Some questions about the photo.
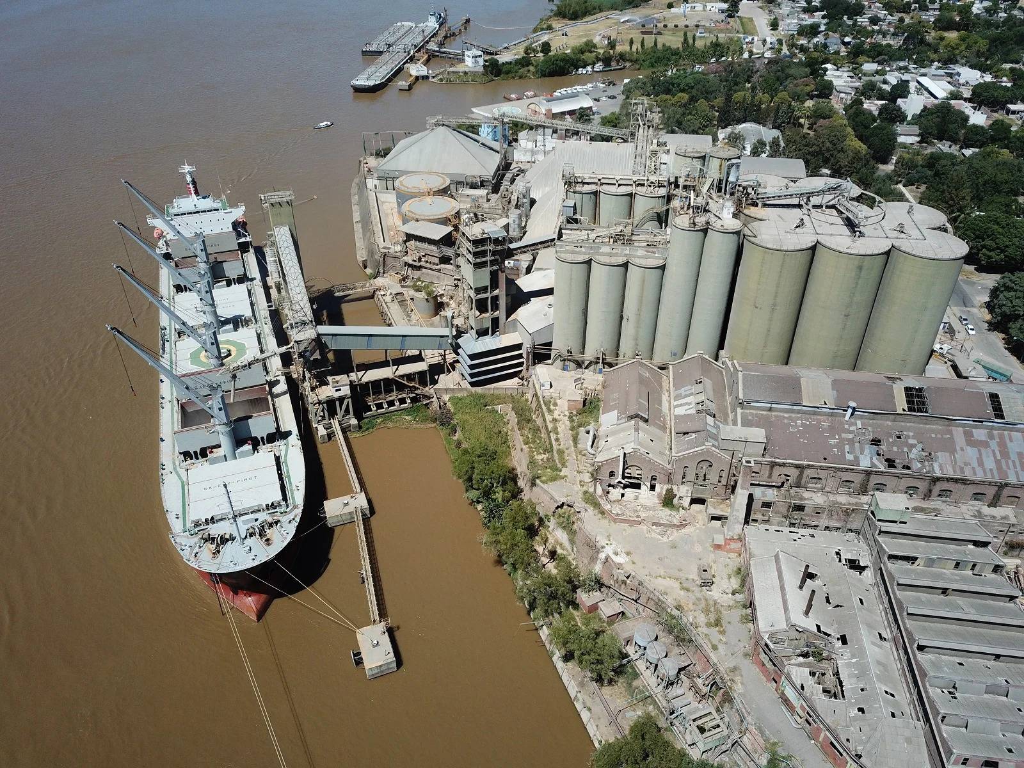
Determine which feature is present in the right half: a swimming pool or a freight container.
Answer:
freight container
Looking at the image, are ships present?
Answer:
Yes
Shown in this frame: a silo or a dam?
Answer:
silo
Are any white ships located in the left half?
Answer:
Yes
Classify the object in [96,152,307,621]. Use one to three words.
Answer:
ship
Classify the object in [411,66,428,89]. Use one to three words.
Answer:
building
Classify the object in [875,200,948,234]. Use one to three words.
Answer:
silo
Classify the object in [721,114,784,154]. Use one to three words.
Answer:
building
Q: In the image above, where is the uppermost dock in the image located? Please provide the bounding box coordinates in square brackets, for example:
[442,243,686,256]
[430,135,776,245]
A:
[397,0,500,95]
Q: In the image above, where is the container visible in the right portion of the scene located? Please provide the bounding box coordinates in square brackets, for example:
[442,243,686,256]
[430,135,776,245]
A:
[973,356,1015,384]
